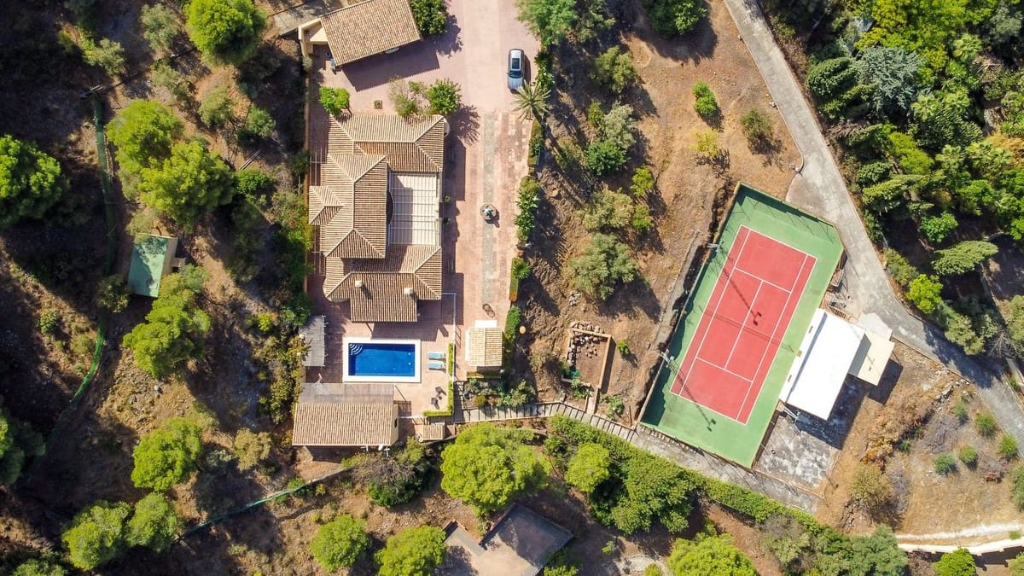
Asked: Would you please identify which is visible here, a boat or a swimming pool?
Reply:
swimming pool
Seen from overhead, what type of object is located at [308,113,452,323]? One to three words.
house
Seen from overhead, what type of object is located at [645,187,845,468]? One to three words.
tennis court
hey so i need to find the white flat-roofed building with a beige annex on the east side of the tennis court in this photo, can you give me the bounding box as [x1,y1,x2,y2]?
[768,308,895,419]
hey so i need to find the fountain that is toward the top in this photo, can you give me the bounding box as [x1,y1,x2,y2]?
[481,205,498,222]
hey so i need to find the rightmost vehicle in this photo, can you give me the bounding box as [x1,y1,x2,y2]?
[506,49,525,91]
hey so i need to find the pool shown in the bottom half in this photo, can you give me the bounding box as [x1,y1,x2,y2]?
[343,338,421,382]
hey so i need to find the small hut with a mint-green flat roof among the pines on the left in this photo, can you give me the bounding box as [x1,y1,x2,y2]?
[128,234,185,297]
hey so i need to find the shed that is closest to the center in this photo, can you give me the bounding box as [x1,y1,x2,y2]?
[464,320,503,372]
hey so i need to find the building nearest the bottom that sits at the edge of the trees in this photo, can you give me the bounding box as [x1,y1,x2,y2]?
[490,508,573,576]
